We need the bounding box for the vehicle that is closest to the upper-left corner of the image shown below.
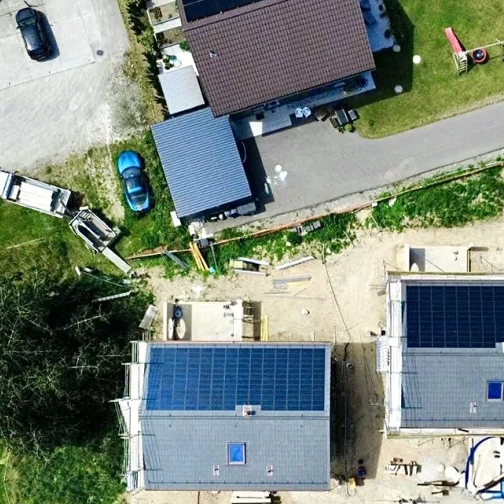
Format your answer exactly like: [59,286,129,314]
[10,3,48,60]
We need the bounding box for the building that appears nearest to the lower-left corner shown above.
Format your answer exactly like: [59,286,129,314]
[135,340,332,491]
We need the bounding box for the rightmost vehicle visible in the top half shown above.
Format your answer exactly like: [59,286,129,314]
[116,150,148,211]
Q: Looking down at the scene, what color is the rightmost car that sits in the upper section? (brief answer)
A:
blue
